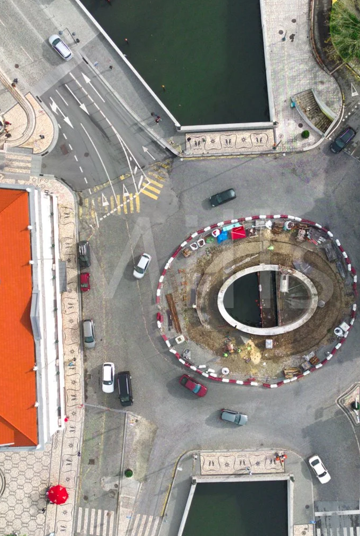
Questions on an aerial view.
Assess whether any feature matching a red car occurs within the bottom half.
Yes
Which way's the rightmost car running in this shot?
diagonally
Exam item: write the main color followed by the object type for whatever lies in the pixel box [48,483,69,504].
red umbrella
